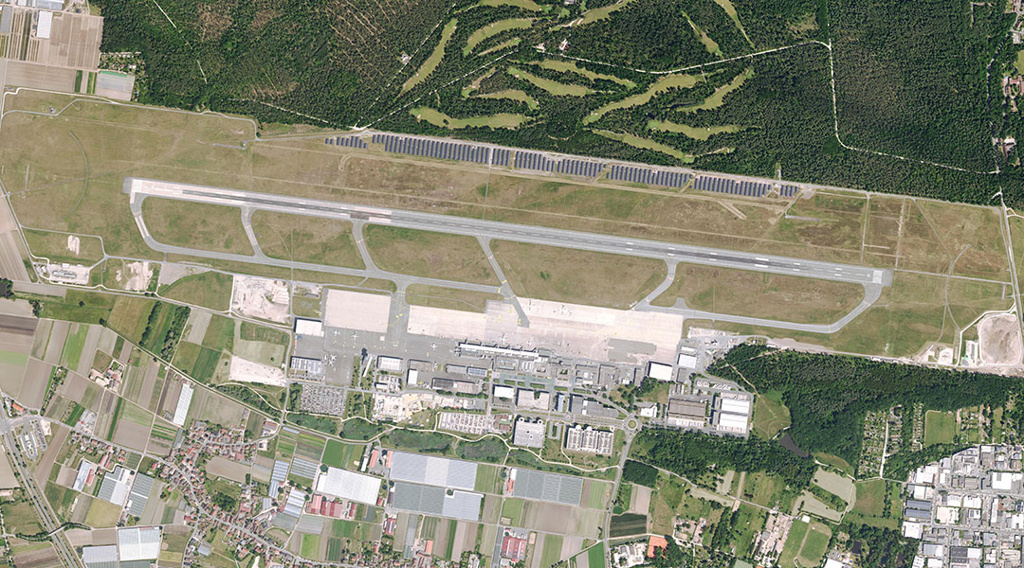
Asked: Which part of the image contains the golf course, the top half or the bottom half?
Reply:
top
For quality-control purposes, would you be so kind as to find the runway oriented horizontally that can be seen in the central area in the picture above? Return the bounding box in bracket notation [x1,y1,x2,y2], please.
[132,177,882,285]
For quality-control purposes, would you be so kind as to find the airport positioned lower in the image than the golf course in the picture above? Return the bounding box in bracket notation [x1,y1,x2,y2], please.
[122,176,893,387]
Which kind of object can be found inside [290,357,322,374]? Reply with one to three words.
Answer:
hangar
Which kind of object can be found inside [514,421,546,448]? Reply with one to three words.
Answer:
building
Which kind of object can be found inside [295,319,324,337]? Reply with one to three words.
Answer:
hangar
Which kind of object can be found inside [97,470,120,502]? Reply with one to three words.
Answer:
greenhouse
